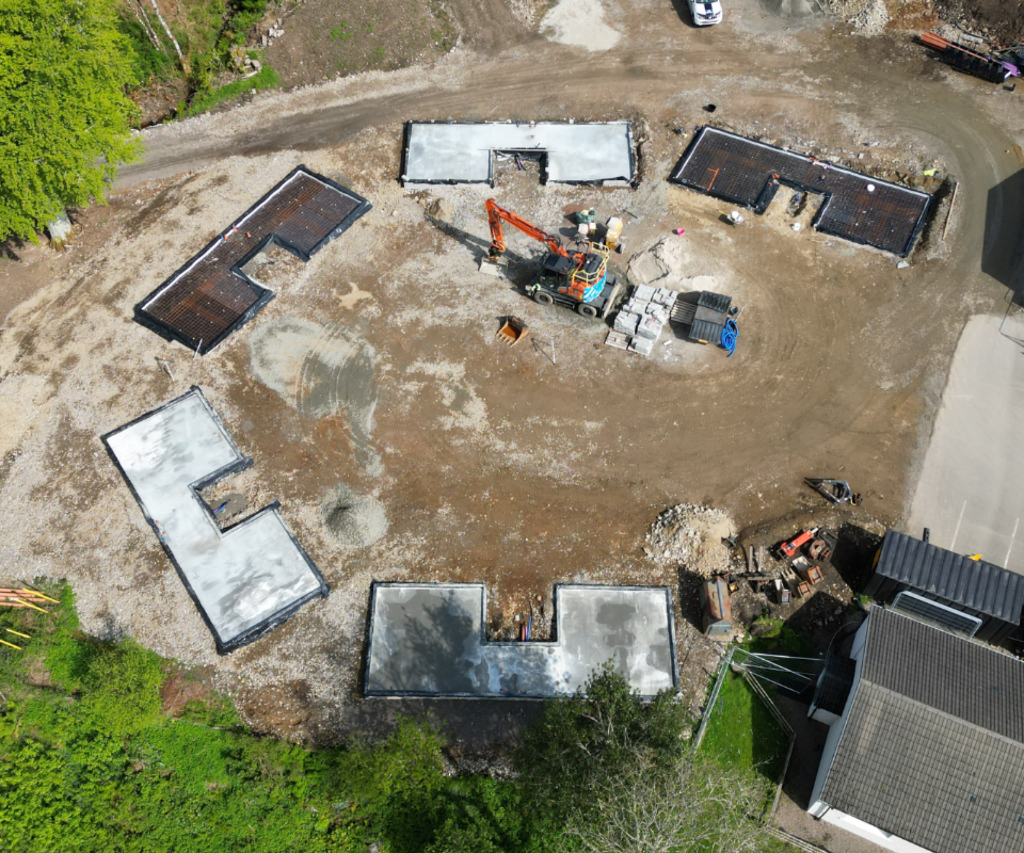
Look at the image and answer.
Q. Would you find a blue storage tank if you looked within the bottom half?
No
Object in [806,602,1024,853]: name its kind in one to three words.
house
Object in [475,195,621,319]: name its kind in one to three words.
work vehicle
